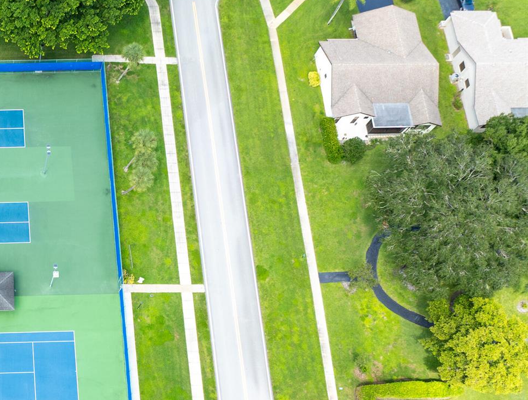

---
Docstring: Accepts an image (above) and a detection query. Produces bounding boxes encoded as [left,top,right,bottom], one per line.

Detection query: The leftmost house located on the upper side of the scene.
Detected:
[316,5,443,143]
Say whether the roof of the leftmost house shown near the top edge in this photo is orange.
No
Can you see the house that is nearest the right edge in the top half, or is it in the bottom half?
top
